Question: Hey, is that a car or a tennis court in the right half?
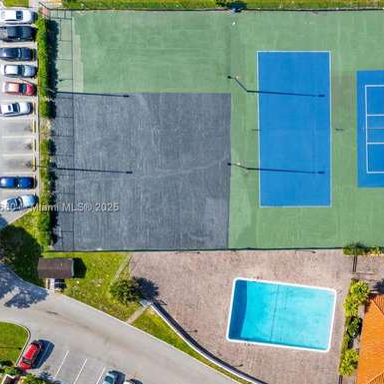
tennis court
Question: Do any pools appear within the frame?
Yes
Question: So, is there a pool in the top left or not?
No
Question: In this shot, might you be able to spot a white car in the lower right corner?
No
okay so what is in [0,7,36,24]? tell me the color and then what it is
white car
